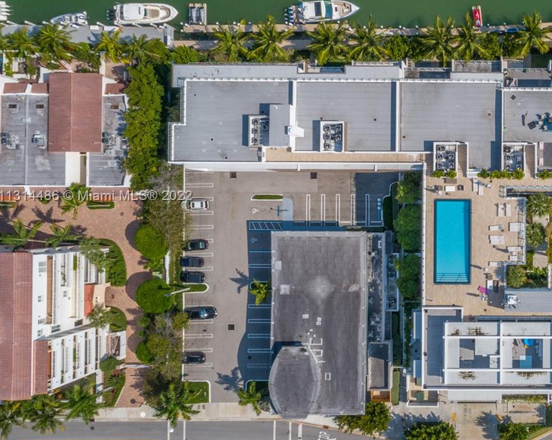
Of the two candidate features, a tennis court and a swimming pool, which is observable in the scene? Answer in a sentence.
I can see a swimming pool in this picture.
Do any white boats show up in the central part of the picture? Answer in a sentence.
No, in the central part of the picture there is no white boat.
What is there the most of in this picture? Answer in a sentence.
What you mostly see from above here is buildings.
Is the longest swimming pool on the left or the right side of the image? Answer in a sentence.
You can find the longest swimming pool on the right side of the picture.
